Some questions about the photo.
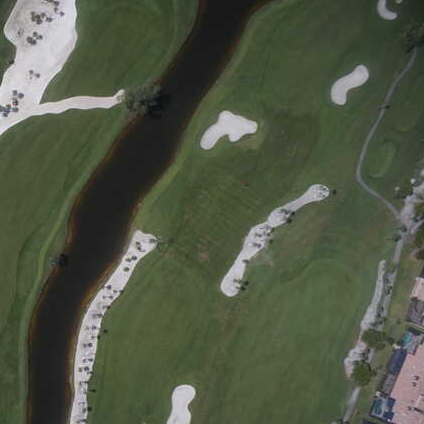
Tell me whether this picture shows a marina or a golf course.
golf course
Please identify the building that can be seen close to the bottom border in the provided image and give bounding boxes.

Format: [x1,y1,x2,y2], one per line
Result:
[378,330,424,424]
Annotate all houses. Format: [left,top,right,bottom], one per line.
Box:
[404,262,424,328]
[378,330,424,424]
